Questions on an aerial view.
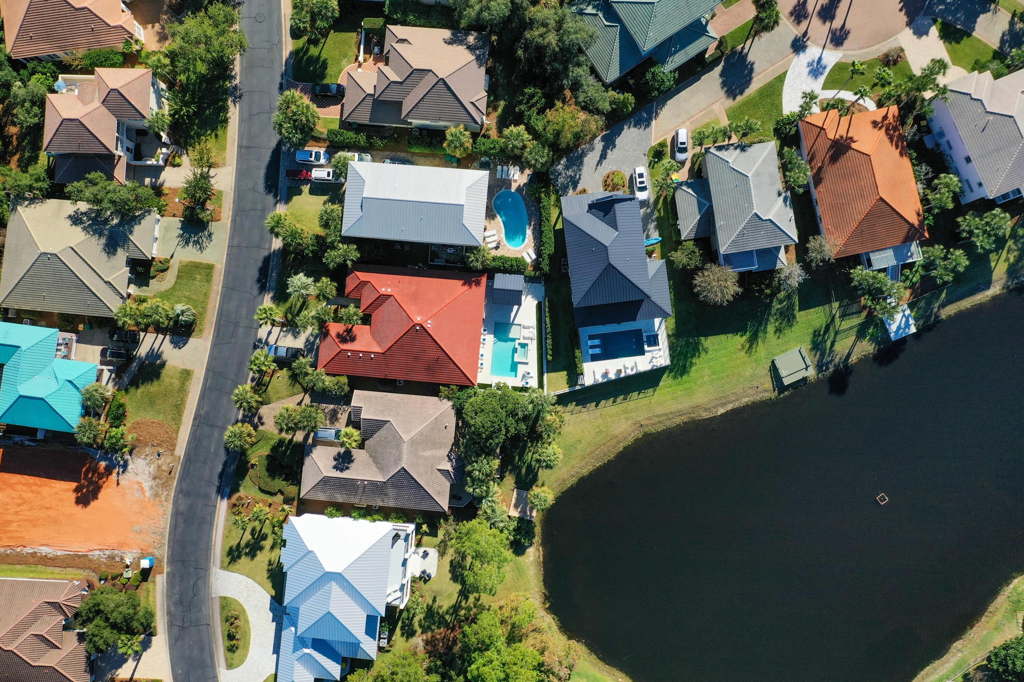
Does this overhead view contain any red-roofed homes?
Yes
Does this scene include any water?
Yes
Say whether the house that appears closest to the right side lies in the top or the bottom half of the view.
top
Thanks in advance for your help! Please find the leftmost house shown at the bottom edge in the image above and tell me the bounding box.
[0,578,92,682]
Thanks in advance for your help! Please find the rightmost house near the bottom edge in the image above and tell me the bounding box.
[277,509,417,682]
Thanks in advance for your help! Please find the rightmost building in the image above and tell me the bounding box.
[915,67,1024,203]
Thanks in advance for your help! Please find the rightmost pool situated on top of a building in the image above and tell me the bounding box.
[588,329,662,362]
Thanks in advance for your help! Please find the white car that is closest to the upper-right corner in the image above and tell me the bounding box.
[673,128,689,163]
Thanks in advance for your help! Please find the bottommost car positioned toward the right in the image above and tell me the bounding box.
[632,166,650,203]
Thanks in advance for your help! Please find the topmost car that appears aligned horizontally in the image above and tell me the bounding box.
[311,81,346,98]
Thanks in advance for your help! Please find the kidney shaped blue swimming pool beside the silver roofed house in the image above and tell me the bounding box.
[491,188,531,250]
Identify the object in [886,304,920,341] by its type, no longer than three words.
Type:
pier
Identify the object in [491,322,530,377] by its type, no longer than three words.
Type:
swimming pool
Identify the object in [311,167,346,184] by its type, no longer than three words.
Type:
car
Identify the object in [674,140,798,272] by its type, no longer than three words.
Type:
house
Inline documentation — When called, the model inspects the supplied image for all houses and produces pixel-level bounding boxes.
[277,509,417,682]
[560,192,672,387]
[567,0,721,85]
[317,263,487,386]
[300,390,474,512]
[341,160,489,248]
[0,321,124,441]
[1,0,148,67]
[0,578,92,682]
[342,24,491,132]
[789,104,929,283]
[915,67,1024,203]
[42,67,169,185]
[674,140,798,272]
[0,196,162,317]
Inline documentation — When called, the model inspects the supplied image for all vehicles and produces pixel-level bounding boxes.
[311,81,346,98]
[673,128,689,163]
[109,327,144,343]
[337,149,375,162]
[632,166,650,203]
[313,427,344,443]
[381,157,413,165]
[295,149,331,166]
[283,166,312,182]
[311,167,346,184]
[269,343,307,359]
